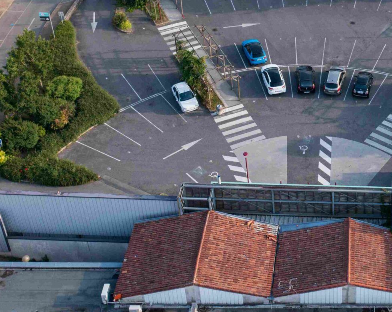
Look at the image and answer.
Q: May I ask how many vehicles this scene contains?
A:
6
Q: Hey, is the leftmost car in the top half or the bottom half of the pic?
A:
top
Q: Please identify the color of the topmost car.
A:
blue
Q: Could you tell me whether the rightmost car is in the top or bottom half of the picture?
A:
top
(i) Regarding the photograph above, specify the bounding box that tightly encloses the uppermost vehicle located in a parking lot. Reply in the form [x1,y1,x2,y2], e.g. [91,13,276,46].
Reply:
[240,37,267,66]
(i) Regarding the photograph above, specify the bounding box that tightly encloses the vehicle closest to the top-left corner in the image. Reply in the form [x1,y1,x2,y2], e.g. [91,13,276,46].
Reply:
[169,77,197,110]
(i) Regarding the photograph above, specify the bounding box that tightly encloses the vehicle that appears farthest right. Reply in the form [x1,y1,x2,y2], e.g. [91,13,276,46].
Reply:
[354,68,377,95]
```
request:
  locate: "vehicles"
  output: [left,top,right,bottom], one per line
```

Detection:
[240,37,267,66]
[262,64,286,93]
[324,63,348,94]
[354,68,377,95]
[295,65,315,93]
[169,77,197,110]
